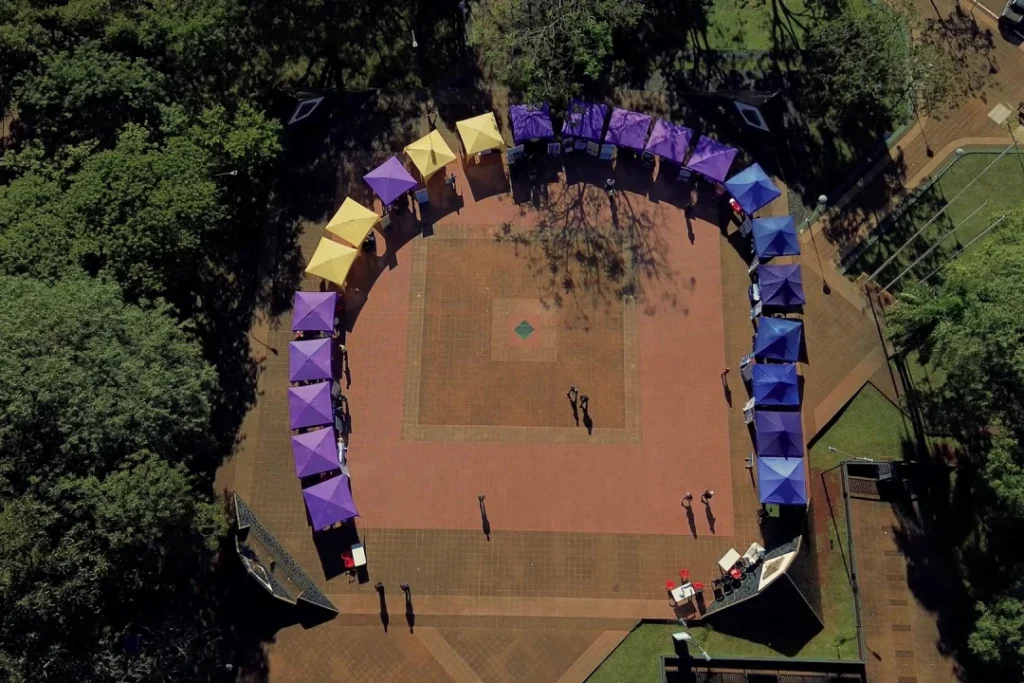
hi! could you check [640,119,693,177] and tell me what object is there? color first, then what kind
purple gazebo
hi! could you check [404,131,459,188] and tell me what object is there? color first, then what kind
yellow gazebo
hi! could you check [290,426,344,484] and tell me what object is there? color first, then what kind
purple gazebo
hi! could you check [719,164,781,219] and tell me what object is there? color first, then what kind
blue gazebo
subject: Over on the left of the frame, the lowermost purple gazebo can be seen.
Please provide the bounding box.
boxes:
[304,474,364,535]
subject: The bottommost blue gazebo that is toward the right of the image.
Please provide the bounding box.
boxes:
[752,458,806,508]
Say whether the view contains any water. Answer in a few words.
No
